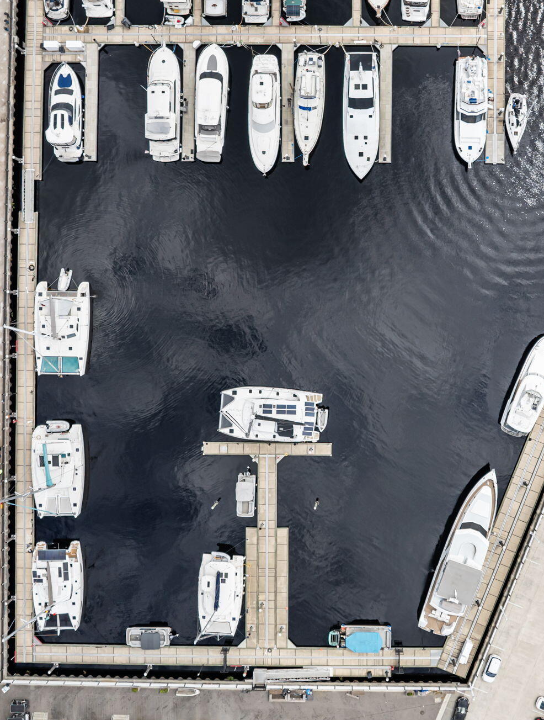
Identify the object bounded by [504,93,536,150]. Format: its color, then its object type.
white boat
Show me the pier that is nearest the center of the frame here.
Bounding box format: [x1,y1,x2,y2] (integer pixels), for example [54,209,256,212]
[203,441,332,456]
